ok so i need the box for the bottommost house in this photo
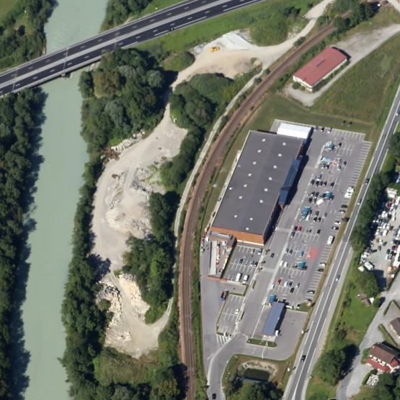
[368,342,400,376]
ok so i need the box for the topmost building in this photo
[294,47,348,89]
